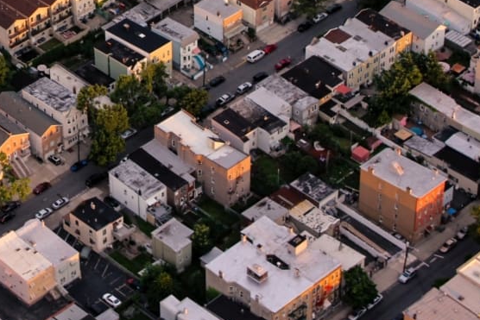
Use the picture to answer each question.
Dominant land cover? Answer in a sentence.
The bulk of the photo consists of buildings.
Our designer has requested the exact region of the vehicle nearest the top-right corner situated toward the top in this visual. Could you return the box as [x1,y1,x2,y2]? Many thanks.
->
[322,1,341,13]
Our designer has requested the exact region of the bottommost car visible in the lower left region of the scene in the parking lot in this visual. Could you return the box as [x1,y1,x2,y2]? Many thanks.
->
[100,292,123,310]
